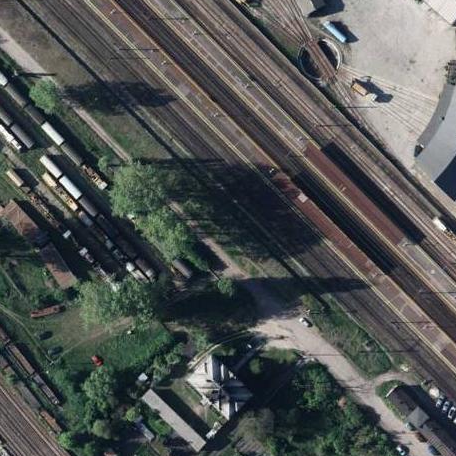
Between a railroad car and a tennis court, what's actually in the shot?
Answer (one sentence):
There is a railroad car in the scene.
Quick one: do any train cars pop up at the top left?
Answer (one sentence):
Yes, a train car is visible at the top left.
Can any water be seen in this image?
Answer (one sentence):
No, the picture contains no water.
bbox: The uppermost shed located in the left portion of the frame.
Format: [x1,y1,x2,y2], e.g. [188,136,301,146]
[1,200,41,239]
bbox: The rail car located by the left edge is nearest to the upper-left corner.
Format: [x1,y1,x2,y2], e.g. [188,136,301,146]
[5,84,30,109]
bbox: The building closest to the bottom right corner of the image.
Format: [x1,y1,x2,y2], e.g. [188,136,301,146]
[386,384,456,456]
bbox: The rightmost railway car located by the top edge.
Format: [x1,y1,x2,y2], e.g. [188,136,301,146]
[323,22,348,44]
